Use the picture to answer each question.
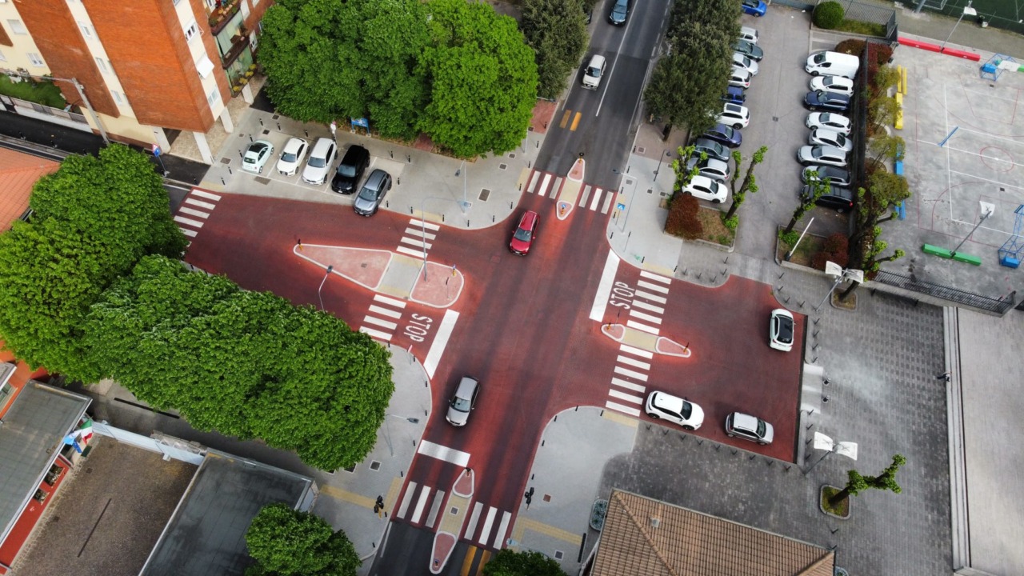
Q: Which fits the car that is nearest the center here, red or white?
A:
red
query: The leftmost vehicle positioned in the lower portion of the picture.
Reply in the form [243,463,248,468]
[446,373,481,429]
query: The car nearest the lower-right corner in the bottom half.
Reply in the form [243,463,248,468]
[721,412,776,449]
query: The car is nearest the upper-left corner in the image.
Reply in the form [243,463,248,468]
[242,138,276,173]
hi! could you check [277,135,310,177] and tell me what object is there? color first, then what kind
white car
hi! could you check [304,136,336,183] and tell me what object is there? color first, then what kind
white car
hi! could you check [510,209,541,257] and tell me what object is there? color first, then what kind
red car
